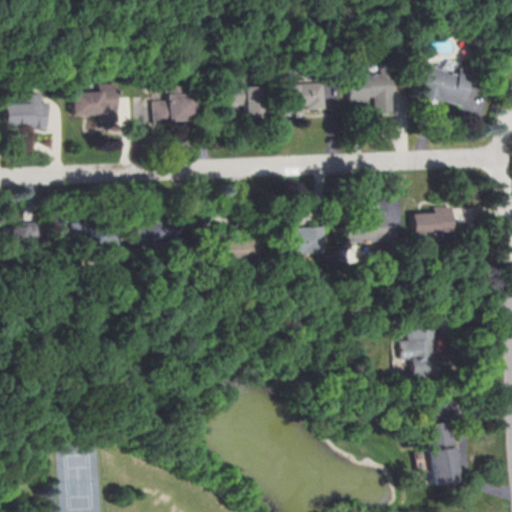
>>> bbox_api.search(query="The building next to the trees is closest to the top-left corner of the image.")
[8,92,48,130]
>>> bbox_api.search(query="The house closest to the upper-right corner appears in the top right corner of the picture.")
[428,68,476,108]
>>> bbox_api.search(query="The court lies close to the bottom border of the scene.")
[56,444,102,512]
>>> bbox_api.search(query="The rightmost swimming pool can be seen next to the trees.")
[428,36,459,64]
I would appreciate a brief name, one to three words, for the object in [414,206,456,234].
house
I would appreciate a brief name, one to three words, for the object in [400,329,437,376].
house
